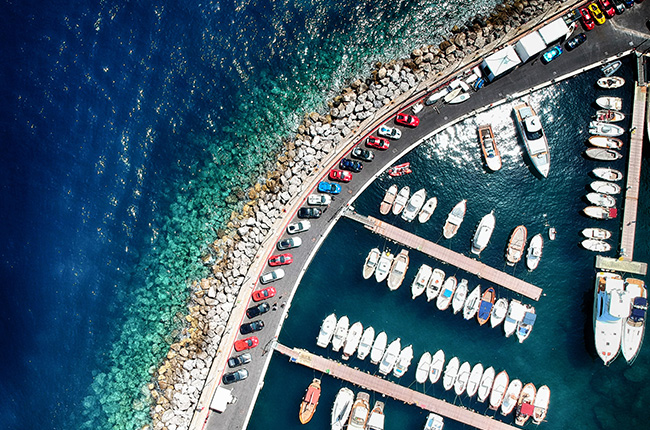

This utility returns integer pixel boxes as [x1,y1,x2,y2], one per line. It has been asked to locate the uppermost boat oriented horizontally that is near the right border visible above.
[596,76,625,89]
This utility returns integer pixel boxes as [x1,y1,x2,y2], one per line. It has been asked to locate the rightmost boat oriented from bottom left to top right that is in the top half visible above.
[600,60,621,77]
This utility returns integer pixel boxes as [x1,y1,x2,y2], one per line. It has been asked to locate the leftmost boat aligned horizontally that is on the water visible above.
[388,163,413,177]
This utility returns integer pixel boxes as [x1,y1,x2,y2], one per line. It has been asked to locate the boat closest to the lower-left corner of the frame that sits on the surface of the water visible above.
[300,375,323,425]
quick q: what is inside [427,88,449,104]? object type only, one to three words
boat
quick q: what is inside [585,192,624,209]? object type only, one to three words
boat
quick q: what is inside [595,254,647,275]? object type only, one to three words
pier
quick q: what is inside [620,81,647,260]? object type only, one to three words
pier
